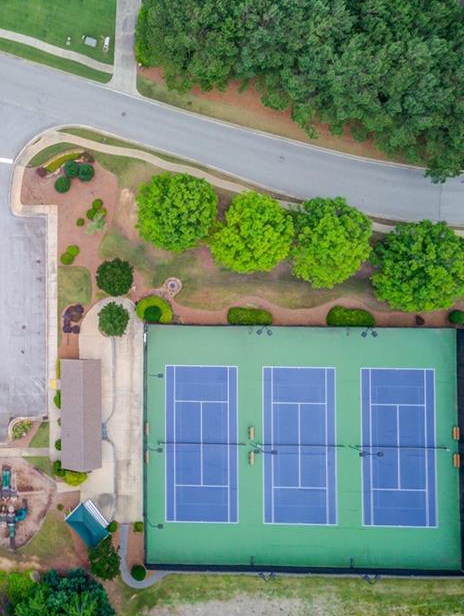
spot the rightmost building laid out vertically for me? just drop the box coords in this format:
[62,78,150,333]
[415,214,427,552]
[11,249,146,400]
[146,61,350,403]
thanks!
[60,359,101,472]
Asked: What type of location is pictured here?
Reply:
sports ground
